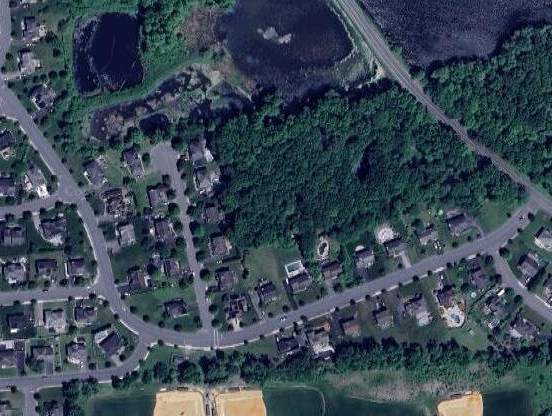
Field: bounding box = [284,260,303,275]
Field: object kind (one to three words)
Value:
swimming pool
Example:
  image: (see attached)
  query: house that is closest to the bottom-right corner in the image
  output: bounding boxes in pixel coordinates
[509,317,539,343]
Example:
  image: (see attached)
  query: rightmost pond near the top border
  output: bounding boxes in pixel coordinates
[217,0,357,99]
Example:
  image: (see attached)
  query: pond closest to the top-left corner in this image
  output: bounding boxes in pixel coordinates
[72,12,142,95]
